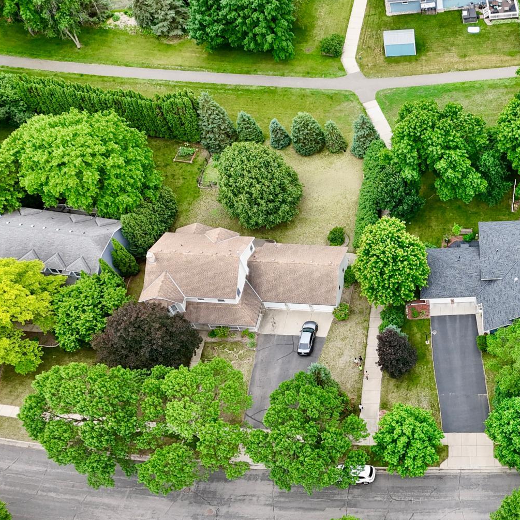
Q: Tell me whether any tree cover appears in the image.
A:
Yes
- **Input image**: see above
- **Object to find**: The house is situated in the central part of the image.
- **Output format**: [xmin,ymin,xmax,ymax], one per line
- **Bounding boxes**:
[139,217,349,334]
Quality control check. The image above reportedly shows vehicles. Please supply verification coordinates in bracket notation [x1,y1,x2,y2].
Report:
[295,321,317,356]
[340,469,375,485]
